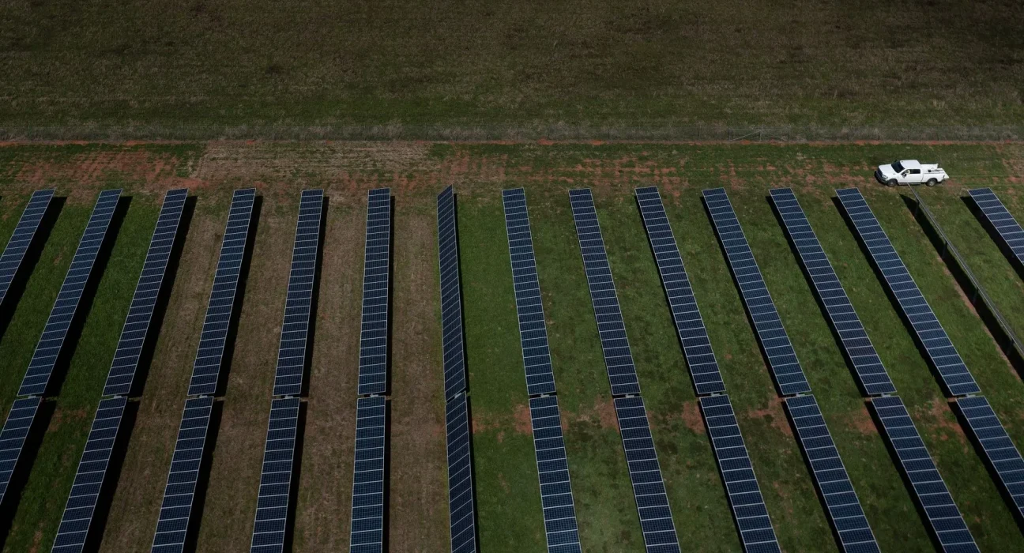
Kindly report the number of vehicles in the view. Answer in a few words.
one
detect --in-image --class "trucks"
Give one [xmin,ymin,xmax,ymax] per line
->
[875,159,948,186]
